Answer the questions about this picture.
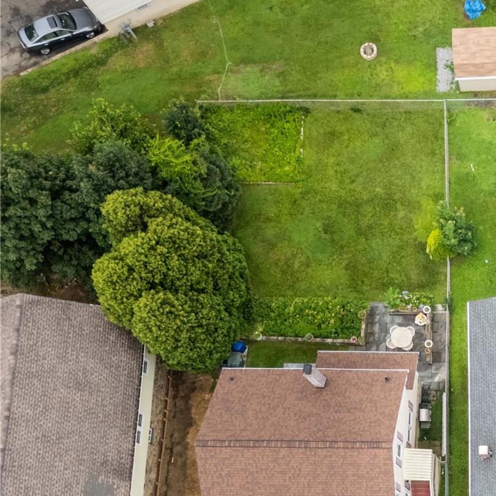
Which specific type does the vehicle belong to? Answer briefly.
car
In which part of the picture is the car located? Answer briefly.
top left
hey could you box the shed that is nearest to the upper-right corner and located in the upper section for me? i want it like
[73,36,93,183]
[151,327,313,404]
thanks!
[452,26,496,95]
